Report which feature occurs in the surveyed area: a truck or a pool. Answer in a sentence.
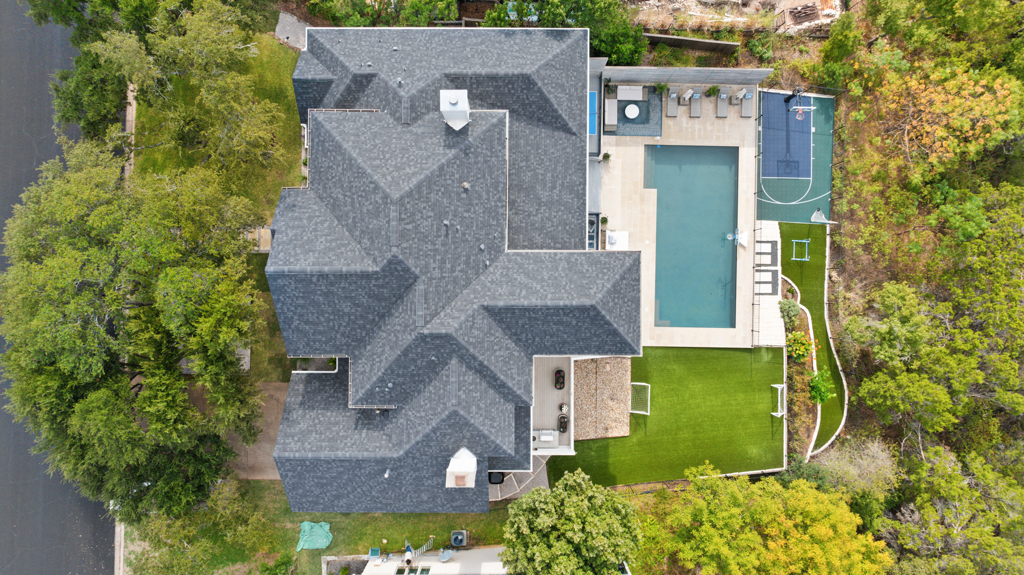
This aerial view contains a pool.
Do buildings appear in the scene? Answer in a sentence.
Yes, the image includes a building.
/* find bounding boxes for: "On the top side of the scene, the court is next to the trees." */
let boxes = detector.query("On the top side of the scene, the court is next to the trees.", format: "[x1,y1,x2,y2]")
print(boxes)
[755,92,834,225]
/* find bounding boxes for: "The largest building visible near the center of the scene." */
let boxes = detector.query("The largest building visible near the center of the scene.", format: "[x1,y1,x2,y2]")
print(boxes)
[265,26,643,513]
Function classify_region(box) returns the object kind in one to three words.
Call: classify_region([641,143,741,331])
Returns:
swimming pool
